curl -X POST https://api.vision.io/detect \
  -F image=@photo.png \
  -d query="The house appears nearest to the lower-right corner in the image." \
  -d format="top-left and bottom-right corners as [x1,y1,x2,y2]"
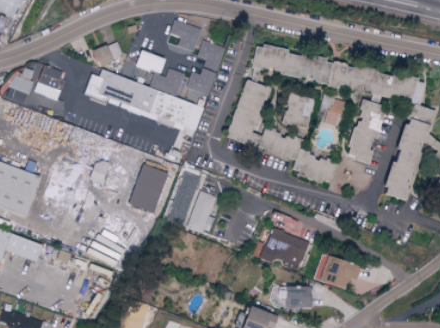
[315,254,362,289]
